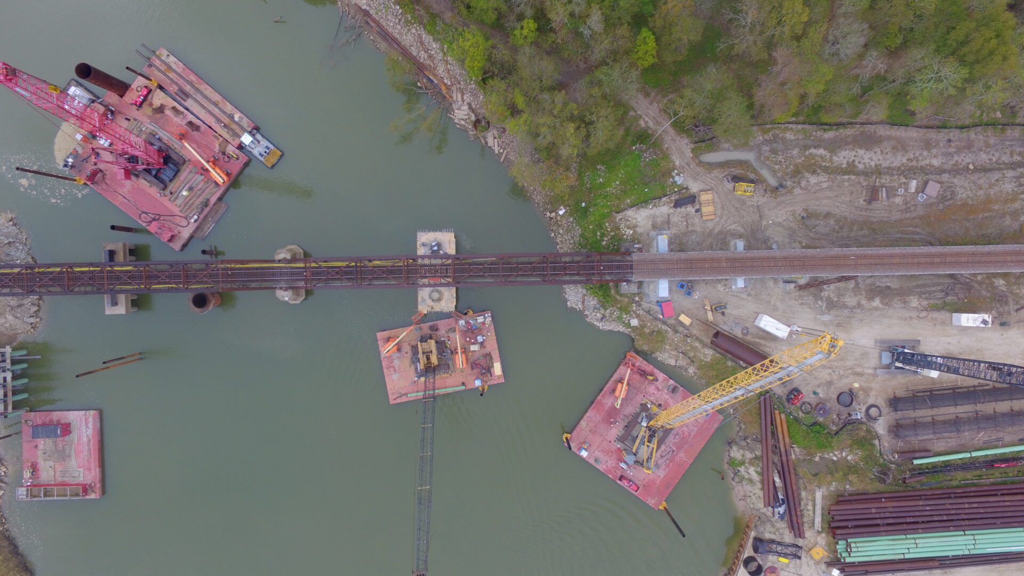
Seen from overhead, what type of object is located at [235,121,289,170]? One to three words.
boat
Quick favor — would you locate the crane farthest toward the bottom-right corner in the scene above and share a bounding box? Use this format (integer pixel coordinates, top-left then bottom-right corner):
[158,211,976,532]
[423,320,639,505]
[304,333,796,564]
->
[878,340,1024,386]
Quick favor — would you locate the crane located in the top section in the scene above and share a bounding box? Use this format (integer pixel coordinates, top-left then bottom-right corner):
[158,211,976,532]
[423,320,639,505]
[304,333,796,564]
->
[0,64,185,190]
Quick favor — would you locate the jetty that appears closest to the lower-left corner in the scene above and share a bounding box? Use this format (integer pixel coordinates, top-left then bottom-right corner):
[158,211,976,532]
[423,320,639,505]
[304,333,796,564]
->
[0,345,41,417]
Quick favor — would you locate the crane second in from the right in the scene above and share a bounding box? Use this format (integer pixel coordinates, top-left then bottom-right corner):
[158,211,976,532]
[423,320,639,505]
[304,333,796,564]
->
[618,328,877,473]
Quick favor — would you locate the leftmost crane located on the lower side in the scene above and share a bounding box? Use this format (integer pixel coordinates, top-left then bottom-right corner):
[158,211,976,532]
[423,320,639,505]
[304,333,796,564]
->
[410,336,452,576]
